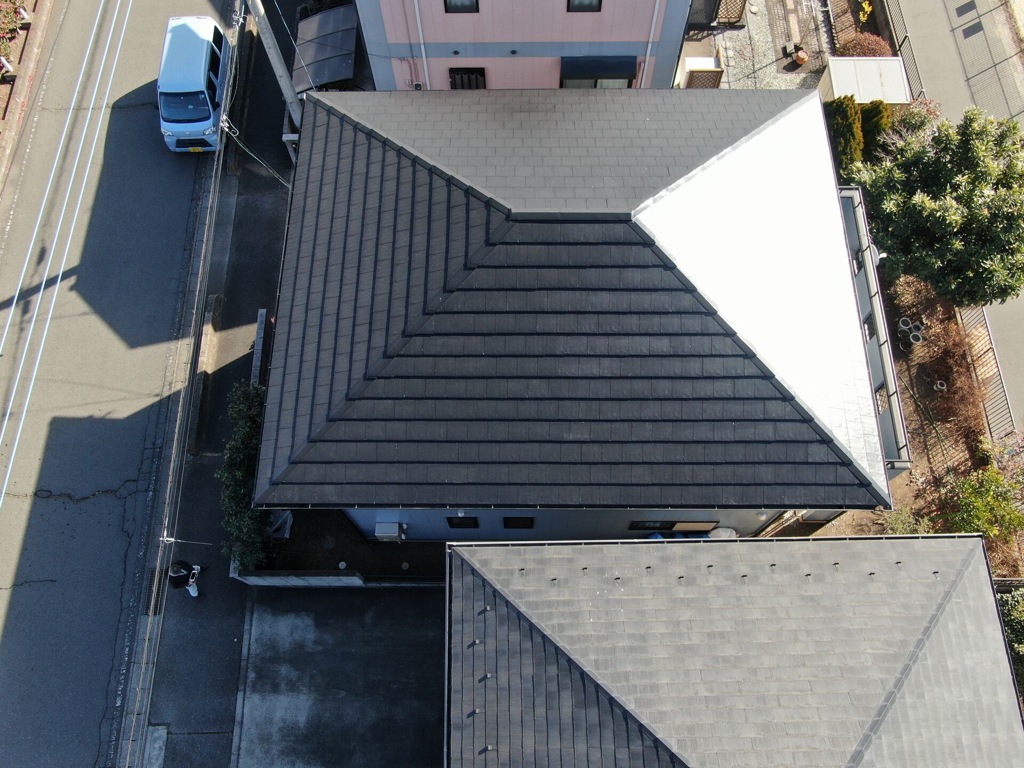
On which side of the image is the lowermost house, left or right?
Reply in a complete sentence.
You can find the lowermost house on the right side of the picture.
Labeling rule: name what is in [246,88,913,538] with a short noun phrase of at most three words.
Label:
house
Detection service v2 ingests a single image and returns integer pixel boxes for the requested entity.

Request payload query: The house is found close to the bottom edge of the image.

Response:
[440,531,1024,768]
